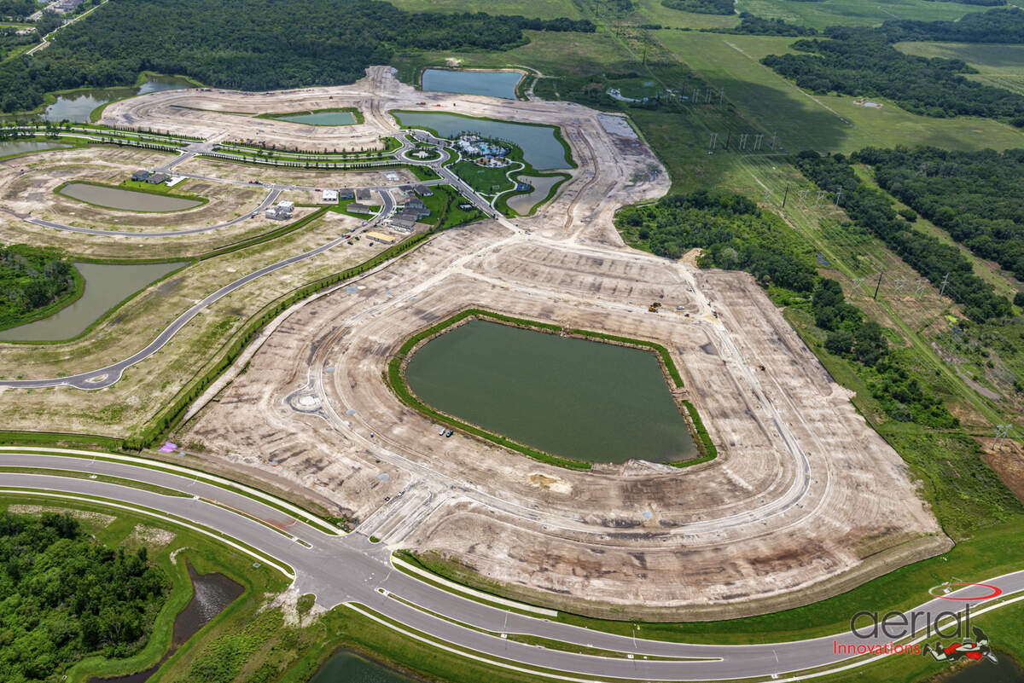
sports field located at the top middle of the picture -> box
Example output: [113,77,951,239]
[453,160,517,193]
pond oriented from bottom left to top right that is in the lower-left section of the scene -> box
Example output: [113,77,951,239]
[87,563,243,683]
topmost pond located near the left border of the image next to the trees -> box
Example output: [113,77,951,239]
[0,75,197,122]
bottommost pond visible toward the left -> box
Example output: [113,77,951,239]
[307,649,420,683]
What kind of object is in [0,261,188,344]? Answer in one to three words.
pond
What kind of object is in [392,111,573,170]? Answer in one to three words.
pond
